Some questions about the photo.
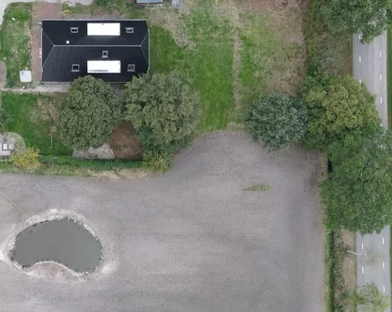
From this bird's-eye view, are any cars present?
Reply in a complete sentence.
No, the picture doesn't show any car.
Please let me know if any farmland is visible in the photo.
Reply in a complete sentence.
Yes, the picture does contain farmland.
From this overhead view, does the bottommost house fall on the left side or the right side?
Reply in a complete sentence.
The bottommost house sits on the left side.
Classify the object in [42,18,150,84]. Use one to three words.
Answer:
house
